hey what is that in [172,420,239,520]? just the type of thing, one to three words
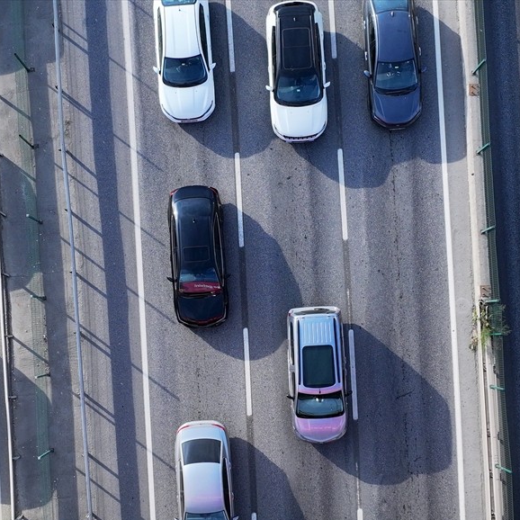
car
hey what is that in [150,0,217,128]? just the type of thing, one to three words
car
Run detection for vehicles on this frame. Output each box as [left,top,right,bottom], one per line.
[361,0,428,134]
[172,420,239,520]
[264,0,332,147]
[150,0,217,128]
[165,186,231,328]
[285,306,353,443]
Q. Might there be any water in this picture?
No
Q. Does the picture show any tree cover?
No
